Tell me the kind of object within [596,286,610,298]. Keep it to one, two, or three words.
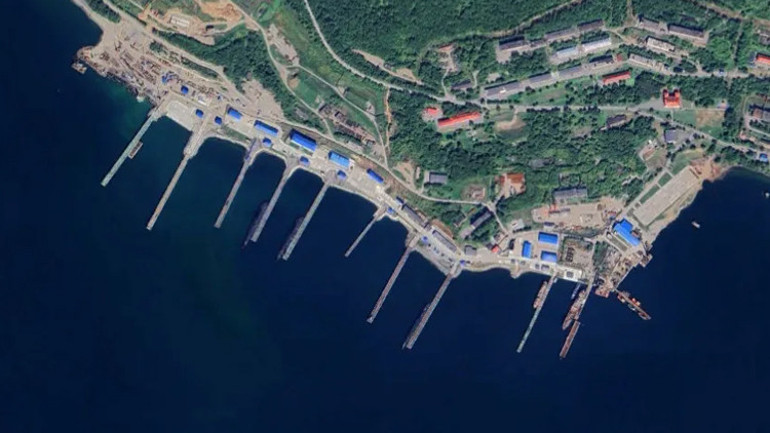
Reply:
ship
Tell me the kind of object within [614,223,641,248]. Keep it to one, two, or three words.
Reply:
building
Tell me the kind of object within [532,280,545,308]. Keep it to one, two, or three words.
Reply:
ship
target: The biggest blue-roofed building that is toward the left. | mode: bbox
[288,128,318,150]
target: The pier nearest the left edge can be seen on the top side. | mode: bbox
[102,113,156,186]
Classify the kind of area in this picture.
port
